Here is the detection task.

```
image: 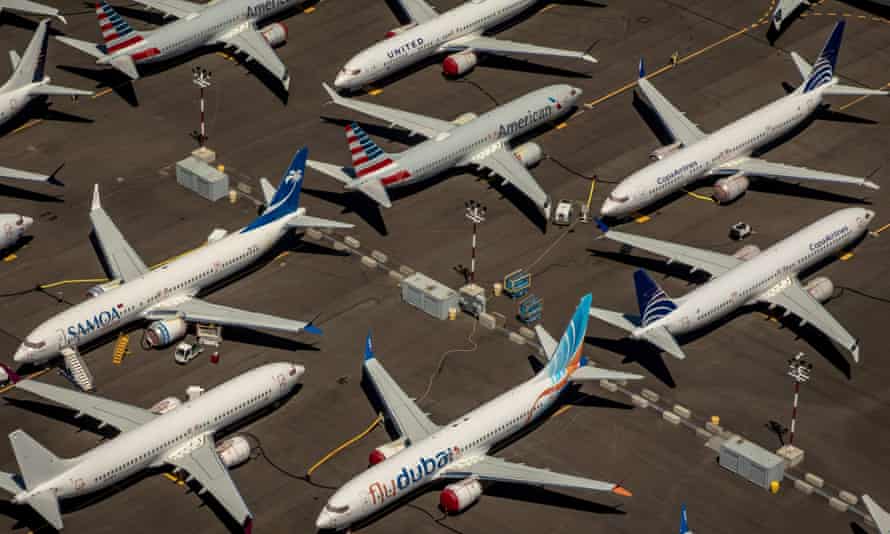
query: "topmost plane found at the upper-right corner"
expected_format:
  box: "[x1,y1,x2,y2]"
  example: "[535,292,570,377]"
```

[772,0,829,30]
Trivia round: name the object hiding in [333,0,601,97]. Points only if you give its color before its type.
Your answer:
white airplane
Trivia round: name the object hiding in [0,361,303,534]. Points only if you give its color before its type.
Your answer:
white airplane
